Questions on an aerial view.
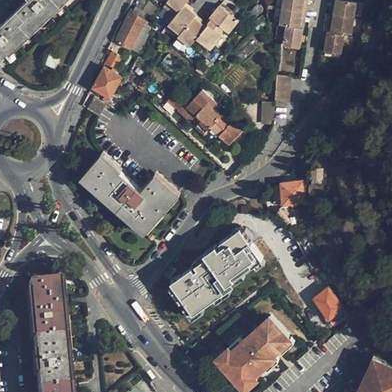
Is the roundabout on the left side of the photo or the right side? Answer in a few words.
left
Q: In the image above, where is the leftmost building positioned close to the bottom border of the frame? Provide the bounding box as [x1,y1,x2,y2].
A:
[28,270,78,392]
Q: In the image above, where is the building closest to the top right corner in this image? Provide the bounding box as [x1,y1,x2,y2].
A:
[331,0,357,35]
